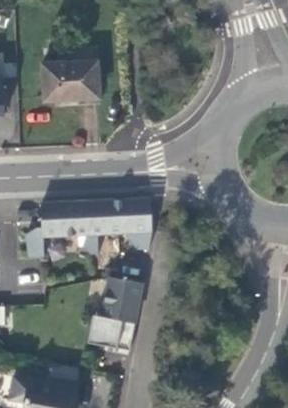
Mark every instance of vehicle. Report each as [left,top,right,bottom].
[122,266,140,276]
[107,100,120,120]
[18,274,40,284]
[26,112,50,123]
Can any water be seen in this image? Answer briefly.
No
